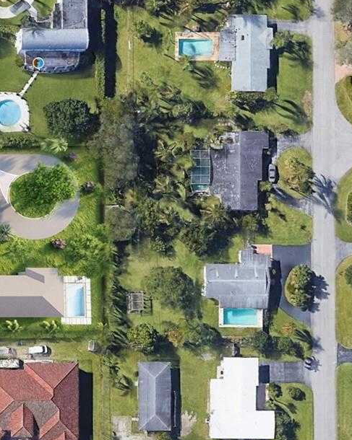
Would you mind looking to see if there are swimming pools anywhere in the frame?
Yes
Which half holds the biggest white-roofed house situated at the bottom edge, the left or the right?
right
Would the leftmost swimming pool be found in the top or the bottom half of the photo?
top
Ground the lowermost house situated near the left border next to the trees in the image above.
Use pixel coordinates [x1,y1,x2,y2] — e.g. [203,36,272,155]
[0,363,80,440]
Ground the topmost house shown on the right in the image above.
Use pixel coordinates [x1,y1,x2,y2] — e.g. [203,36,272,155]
[219,15,273,91]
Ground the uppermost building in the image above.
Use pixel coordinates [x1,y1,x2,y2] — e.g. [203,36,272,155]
[16,0,90,53]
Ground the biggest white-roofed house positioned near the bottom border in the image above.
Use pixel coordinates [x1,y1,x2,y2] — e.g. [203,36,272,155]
[209,358,275,439]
